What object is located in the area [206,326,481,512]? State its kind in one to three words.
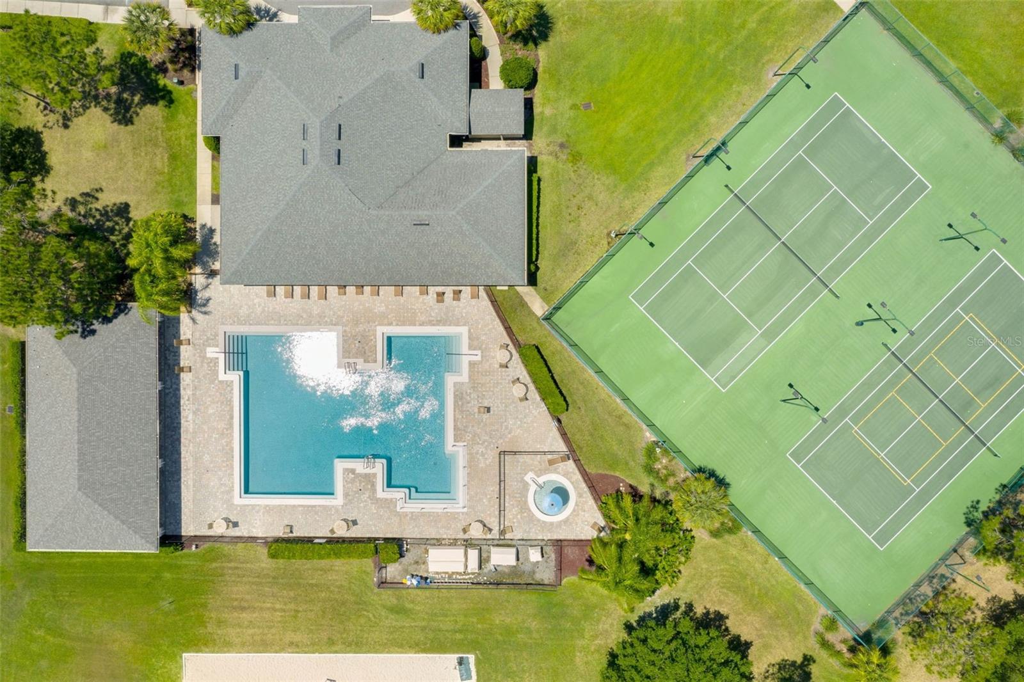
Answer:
swimming pool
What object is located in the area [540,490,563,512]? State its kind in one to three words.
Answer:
fountain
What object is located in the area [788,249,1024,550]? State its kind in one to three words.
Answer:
tennis court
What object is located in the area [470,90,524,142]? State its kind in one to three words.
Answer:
shed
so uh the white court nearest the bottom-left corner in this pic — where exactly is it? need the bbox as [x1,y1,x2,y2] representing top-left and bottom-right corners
[182,653,475,682]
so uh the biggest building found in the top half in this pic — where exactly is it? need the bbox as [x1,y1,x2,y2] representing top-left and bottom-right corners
[200,6,528,286]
